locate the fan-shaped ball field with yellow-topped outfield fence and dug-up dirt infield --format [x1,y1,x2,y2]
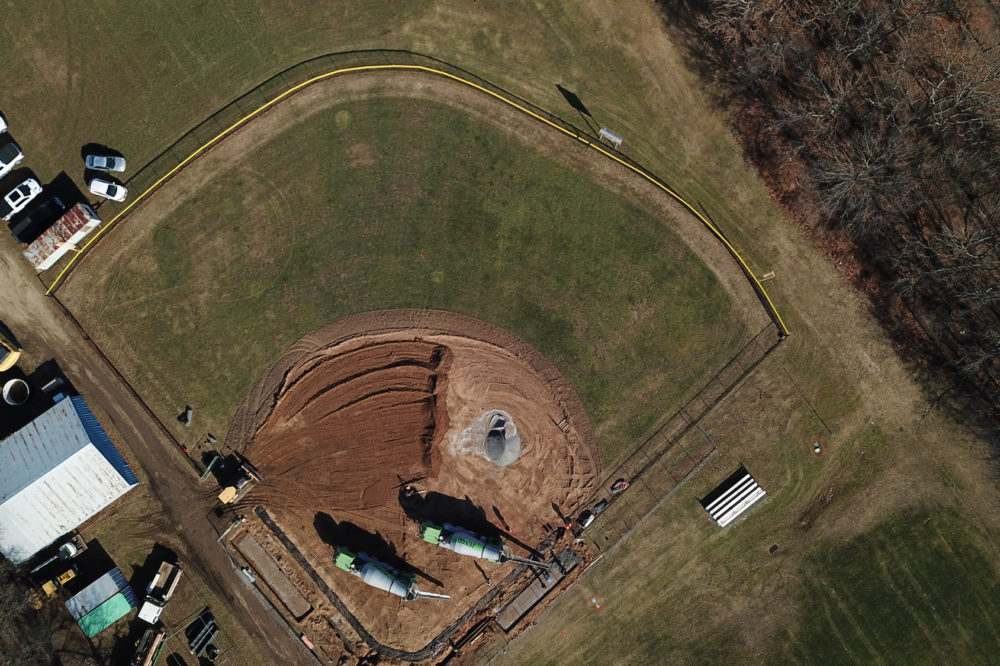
[57,70,782,666]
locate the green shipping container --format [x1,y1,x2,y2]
[80,584,142,637]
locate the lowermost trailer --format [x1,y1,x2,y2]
[138,628,174,666]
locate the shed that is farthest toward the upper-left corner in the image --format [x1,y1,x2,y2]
[21,203,104,269]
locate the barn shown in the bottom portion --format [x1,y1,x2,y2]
[0,395,141,568]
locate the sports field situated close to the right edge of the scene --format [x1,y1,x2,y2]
[778,522,1000,666]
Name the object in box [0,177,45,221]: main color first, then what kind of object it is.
white truck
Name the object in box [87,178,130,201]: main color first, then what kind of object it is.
white car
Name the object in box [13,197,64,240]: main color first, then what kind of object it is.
black truck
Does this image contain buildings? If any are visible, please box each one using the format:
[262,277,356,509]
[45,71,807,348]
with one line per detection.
[0,395,141,568]
[21,203,104,269]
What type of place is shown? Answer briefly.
sports ground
